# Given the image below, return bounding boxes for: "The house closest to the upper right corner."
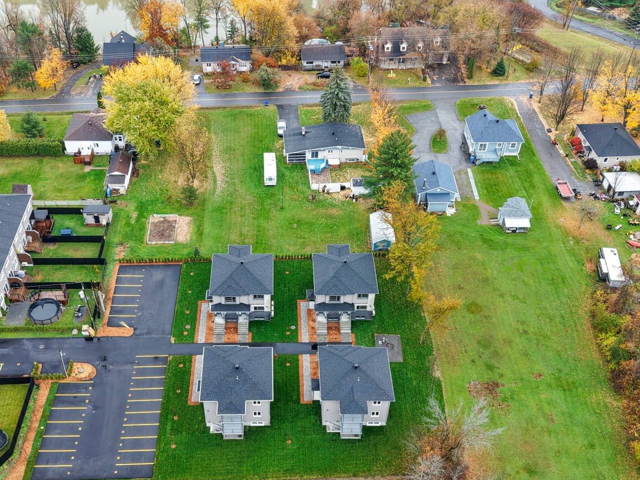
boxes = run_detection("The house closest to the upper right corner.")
[574,122,640,167]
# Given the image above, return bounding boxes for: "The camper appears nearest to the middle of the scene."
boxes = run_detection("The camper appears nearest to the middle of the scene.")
[264,155,276,187]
